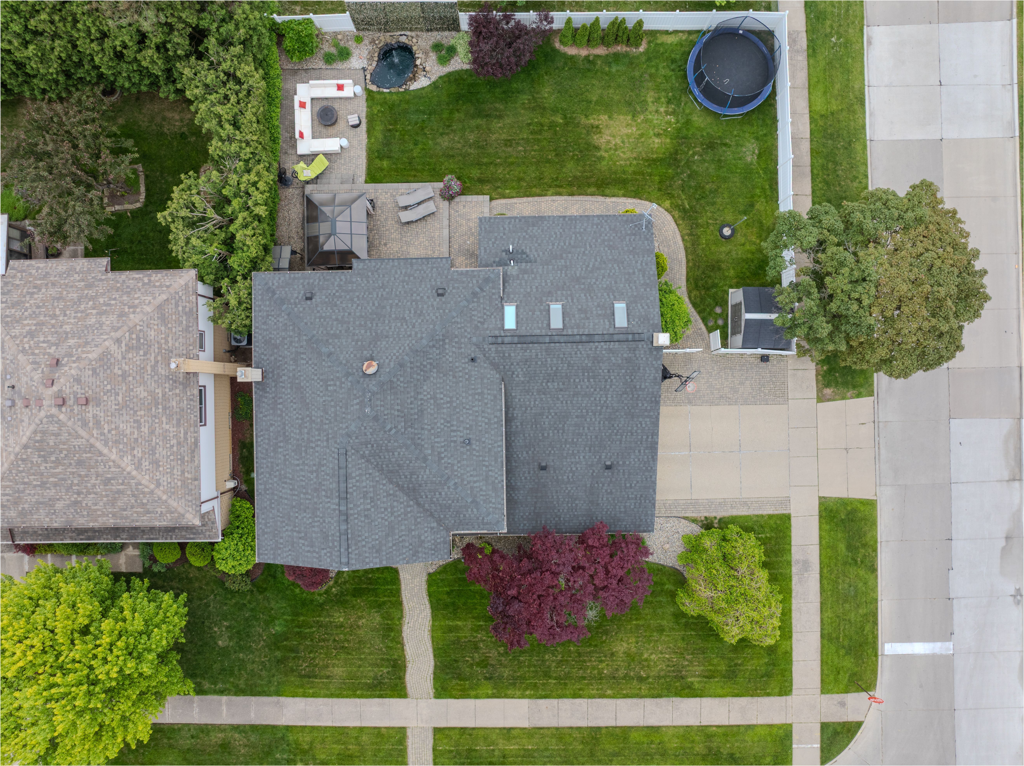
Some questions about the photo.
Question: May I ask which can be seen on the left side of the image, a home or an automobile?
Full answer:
Looking on the left side of the image, you will find a home.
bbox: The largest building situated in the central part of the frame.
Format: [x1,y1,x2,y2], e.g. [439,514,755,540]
[236,211,670,572]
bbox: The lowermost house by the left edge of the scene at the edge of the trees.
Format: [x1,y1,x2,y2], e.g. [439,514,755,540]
[0,256,244,545]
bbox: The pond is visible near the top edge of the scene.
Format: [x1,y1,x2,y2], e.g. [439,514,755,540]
[368,38,417,93]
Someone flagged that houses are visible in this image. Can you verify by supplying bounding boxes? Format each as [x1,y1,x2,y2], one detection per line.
[0,256,244,545]
[236,211,670,572]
